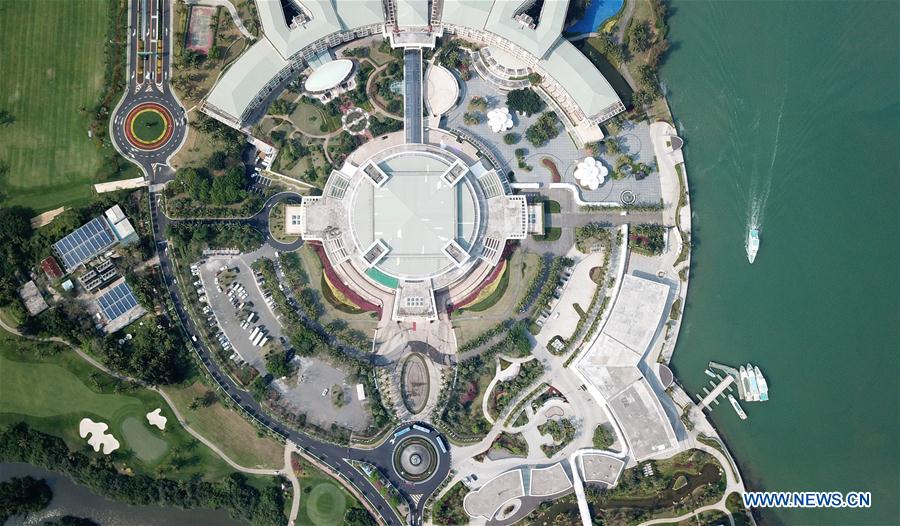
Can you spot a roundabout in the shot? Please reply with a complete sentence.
Yes, you can see a roundabout in this photo.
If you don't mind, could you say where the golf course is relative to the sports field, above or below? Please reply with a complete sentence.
The position of the golf course is below the sports field.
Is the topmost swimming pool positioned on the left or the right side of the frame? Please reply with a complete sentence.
The topmost swimming pool appears in the right half of the scene.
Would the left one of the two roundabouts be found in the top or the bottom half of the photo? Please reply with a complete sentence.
It is in the top half that the left one of the two roundabouts appears.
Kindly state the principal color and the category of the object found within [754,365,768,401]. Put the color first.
white boat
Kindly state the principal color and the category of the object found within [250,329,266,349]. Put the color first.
white vehicle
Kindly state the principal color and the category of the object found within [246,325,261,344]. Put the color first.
white vehicle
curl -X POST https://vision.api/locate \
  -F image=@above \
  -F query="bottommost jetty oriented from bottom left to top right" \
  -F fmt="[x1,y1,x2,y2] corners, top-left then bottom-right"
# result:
[695,372,735,412]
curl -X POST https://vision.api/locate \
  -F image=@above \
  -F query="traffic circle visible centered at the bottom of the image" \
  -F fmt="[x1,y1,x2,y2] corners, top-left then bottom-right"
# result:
[343,421,452,526]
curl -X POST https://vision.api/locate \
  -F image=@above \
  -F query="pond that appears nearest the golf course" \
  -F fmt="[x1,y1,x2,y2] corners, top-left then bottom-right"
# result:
[0,462,256,526]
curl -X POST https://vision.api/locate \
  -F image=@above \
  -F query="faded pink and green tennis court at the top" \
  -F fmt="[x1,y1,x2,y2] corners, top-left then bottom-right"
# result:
[183,4,216,54]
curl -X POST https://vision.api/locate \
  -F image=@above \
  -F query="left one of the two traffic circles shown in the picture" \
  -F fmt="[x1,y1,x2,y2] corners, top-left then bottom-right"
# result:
[110,83,190,213]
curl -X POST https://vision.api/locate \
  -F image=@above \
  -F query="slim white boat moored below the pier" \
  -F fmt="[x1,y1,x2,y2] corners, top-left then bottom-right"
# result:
[729,394,747,421]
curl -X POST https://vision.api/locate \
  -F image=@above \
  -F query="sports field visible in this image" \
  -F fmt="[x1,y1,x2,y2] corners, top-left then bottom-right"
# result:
[0,0,107,210]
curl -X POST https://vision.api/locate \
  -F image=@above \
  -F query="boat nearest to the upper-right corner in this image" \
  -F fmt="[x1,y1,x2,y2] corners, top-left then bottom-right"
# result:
[747,230,759,264]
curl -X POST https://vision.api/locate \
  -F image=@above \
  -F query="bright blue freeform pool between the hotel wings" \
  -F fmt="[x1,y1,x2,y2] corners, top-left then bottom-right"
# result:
[564,0,628,33]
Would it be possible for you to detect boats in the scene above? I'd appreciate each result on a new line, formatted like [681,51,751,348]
[740,365,751,401]
[747,230,759,264]
[729,394,747,421]
[754,365,768,401]
[747,362,758,401]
